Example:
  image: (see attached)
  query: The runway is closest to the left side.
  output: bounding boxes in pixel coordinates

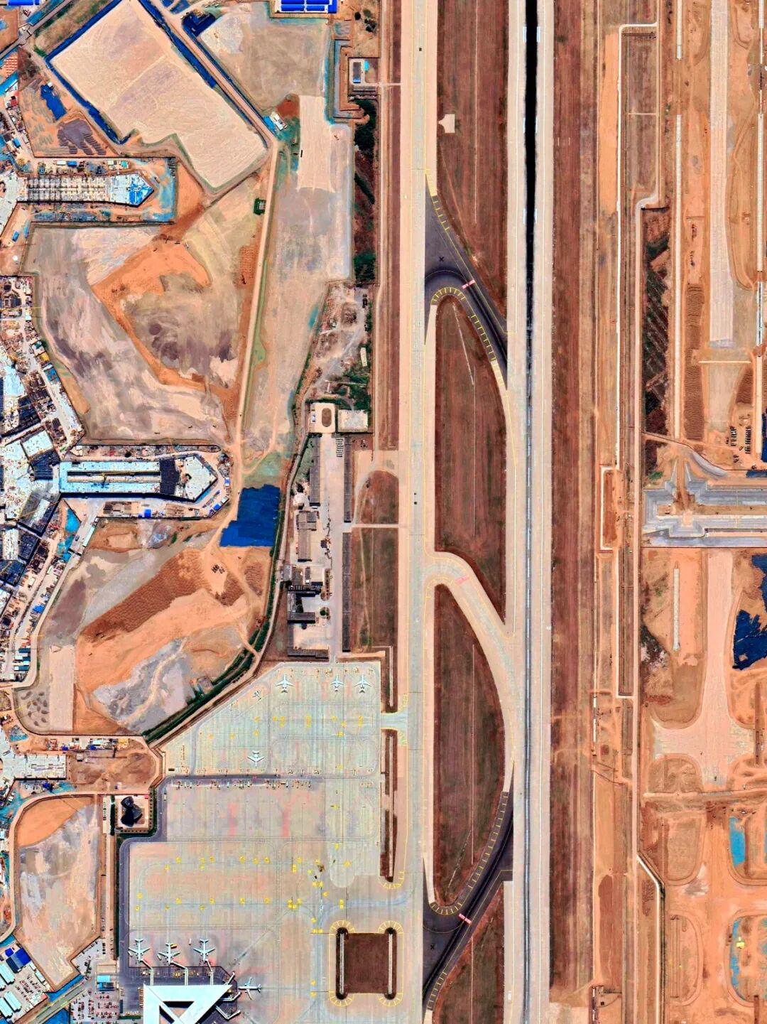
[504,0,554,1024]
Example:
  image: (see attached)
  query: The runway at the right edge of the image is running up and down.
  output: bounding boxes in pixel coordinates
[710,0,733,340]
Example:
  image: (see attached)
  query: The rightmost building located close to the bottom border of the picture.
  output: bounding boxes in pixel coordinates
[142,986,231,1024]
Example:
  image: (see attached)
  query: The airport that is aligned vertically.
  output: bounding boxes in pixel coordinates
[119,0,554,1024]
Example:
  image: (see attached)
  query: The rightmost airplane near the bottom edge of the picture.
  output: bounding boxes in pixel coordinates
[239,977,262,999]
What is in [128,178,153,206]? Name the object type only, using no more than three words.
building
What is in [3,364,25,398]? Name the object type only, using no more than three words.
building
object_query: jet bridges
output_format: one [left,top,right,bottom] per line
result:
[214,1005,242,1021]
[221,992,241,1002]
[225,972,235,986]
[205,959,213,986]
[140,959,153,986]
[171,960,187,986]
